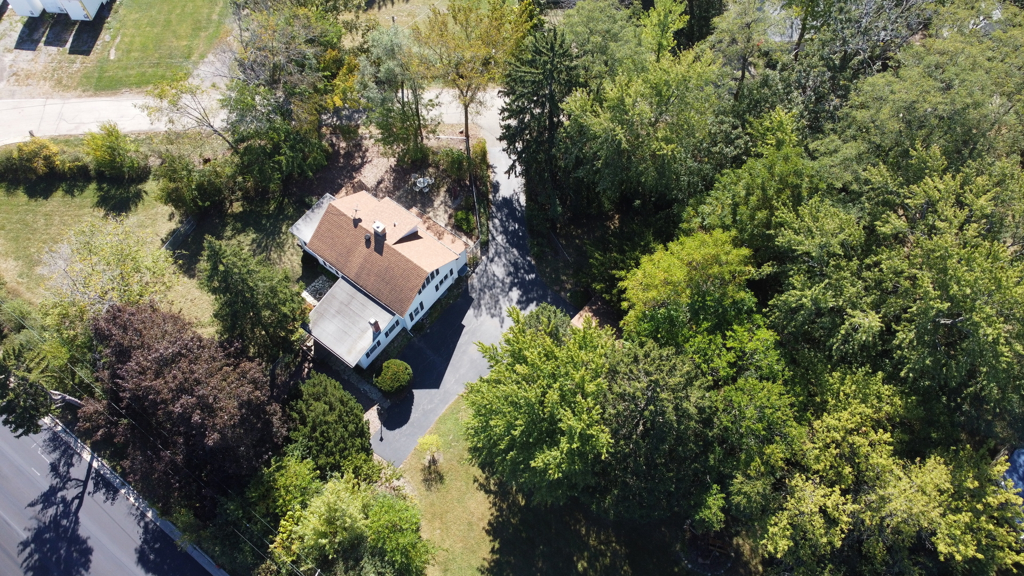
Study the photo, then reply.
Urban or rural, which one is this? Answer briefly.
rural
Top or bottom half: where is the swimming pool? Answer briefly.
bottom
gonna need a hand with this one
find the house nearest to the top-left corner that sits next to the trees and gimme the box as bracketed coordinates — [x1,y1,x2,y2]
[286,191,472,370]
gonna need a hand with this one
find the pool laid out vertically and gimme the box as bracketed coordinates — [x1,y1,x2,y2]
[1004,441,1024,499]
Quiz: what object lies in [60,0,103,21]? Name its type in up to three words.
trailer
